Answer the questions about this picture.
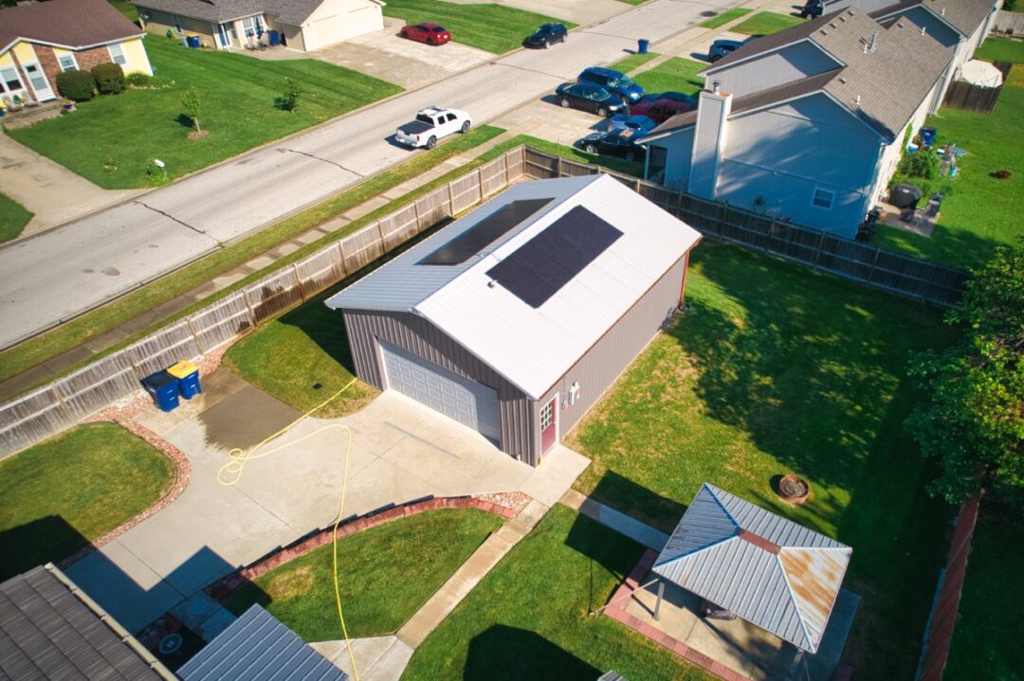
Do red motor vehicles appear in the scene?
Yes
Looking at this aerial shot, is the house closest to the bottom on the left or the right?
left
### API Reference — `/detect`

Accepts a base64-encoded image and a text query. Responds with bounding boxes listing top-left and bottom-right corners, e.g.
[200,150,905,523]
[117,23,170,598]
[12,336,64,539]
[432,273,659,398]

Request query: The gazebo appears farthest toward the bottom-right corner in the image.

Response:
[652,483,855,681]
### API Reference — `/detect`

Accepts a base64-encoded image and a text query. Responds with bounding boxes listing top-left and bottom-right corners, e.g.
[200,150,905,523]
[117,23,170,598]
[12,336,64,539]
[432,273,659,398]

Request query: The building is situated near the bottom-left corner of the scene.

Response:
[0,558,178,681]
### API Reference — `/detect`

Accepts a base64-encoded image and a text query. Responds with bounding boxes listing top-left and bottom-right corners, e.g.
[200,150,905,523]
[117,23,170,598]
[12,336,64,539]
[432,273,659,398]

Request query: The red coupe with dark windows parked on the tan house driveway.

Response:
[403,19,449,42]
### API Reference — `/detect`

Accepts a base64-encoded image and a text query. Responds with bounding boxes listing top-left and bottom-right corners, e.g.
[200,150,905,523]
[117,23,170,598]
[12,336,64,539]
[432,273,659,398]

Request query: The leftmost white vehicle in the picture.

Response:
[388,105,468,151]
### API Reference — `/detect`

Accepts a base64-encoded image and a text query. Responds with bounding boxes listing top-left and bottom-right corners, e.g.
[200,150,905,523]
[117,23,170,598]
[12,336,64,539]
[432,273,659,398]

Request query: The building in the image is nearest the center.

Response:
[322,172,706,467]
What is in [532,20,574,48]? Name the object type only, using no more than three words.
car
